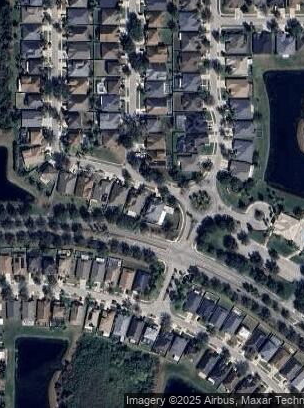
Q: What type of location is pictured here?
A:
residential area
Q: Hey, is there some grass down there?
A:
Yes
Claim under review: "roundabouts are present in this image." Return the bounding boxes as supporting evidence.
[180,180,221,220]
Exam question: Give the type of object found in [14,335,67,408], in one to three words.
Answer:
pond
